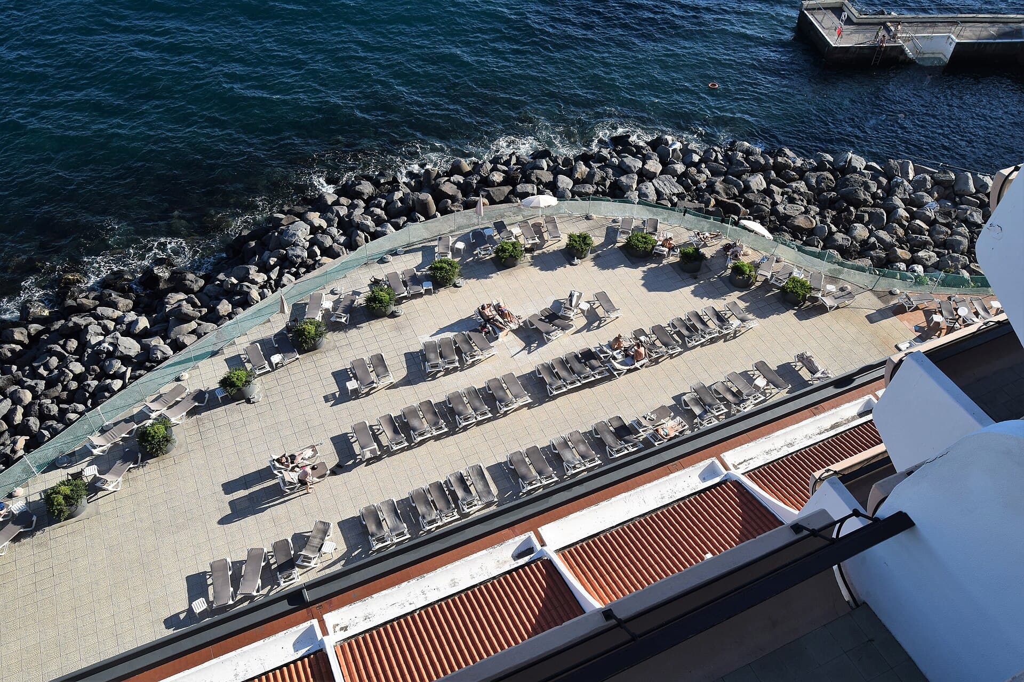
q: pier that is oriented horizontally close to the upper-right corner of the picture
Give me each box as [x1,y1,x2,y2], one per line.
[790,0,1024,69]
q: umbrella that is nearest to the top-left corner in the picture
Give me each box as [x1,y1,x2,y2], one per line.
[275,294,295,323]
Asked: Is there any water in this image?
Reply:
Yes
